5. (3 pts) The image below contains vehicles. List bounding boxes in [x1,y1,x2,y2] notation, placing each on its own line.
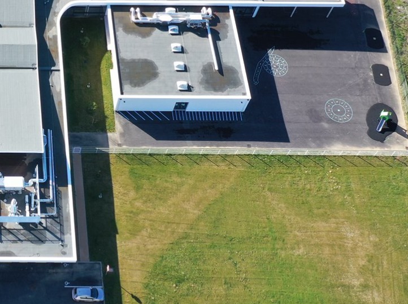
[72,286,103,304]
